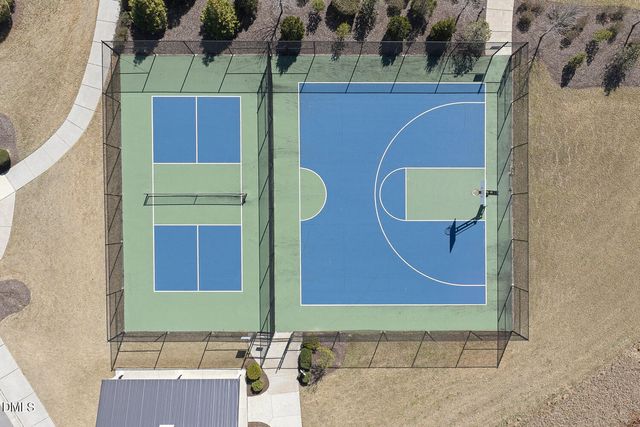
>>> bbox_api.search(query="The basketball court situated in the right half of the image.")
[272,54,513,332]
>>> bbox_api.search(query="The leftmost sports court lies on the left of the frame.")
[120,54,275,332]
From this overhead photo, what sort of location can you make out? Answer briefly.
sports ground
